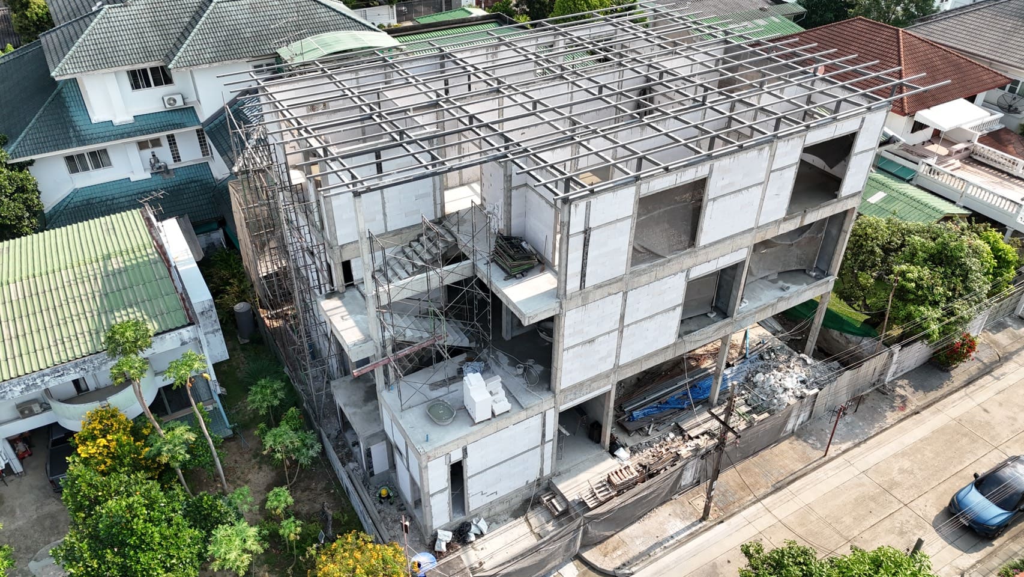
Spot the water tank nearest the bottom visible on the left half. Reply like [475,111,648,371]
[230,299,263,355]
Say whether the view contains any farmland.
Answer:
No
